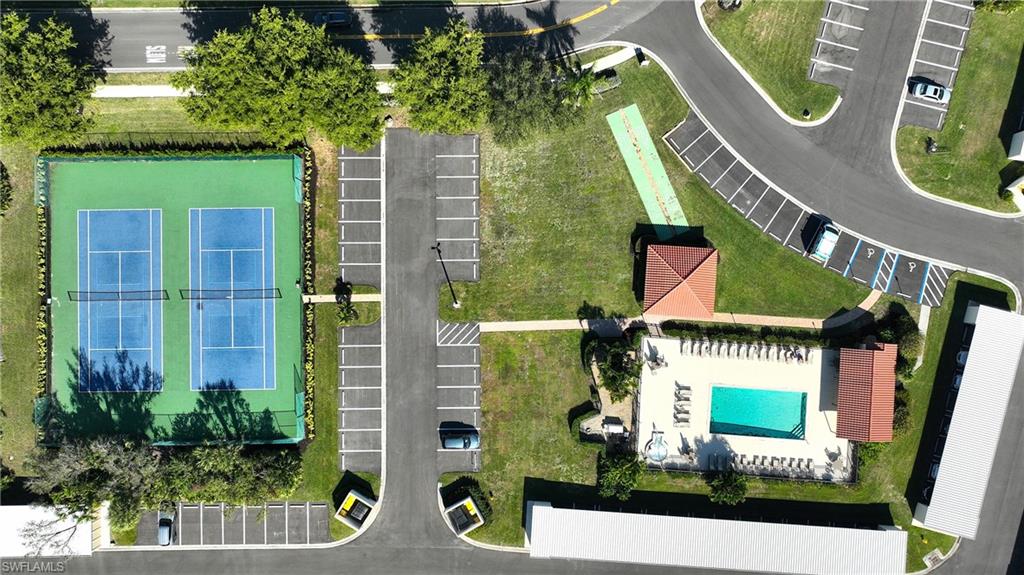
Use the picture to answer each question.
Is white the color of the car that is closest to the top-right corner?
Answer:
Yes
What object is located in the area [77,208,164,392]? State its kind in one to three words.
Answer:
tennis court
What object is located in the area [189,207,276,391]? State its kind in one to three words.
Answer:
tennis court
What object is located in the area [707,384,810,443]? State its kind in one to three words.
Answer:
swimming pool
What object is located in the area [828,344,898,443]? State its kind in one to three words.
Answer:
building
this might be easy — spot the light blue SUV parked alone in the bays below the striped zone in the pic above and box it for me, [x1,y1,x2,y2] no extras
[443,433,479,451]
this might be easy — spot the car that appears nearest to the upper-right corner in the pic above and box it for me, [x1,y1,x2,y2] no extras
[911,82,951,103]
